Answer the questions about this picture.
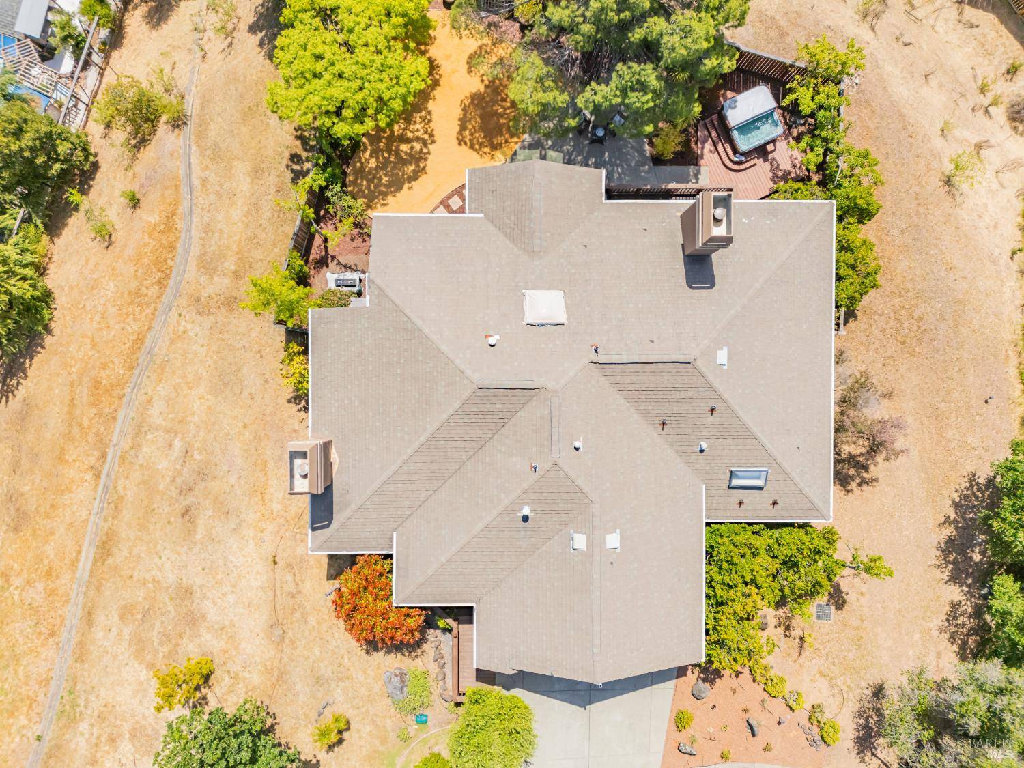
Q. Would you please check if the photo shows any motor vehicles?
No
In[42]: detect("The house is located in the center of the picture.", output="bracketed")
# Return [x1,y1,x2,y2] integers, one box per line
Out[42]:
[289,160,837,688]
